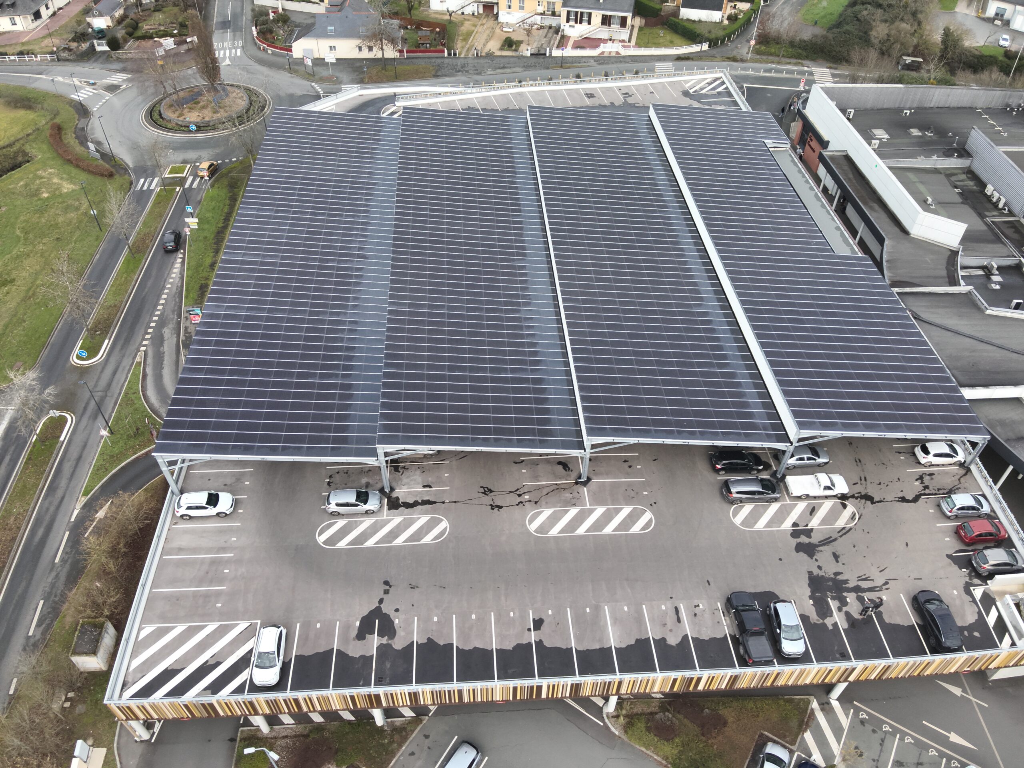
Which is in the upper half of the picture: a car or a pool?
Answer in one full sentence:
There is a car in the upper half of the picture.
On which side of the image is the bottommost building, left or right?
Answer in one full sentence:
You can find the bottommost building on the left side of the picture.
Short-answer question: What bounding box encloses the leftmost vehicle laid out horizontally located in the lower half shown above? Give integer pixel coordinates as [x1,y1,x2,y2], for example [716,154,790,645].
[172,488,235,520]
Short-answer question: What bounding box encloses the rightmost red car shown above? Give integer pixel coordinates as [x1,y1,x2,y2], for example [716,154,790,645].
[952,517,1011,547]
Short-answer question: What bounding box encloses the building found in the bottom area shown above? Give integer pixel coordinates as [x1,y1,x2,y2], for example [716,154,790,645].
[66,614,120,670]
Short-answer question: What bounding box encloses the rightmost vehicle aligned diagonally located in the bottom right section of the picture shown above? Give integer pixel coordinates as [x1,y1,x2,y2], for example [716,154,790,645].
[912,591,968,657]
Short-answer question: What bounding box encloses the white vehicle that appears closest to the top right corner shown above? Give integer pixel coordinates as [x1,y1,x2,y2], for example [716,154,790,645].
[996,33,1015,46]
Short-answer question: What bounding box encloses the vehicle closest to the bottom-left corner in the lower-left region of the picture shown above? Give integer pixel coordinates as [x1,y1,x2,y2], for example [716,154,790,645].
[250,627,288,689]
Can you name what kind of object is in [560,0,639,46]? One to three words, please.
house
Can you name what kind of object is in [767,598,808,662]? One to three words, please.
car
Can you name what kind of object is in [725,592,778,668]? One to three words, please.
truck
